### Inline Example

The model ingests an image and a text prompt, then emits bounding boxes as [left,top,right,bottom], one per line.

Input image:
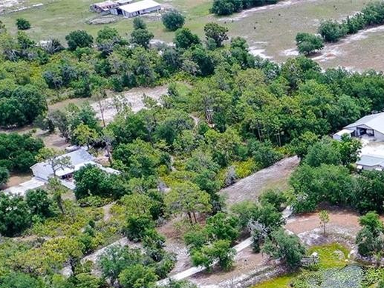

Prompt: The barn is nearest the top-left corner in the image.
[78,1,119,14]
